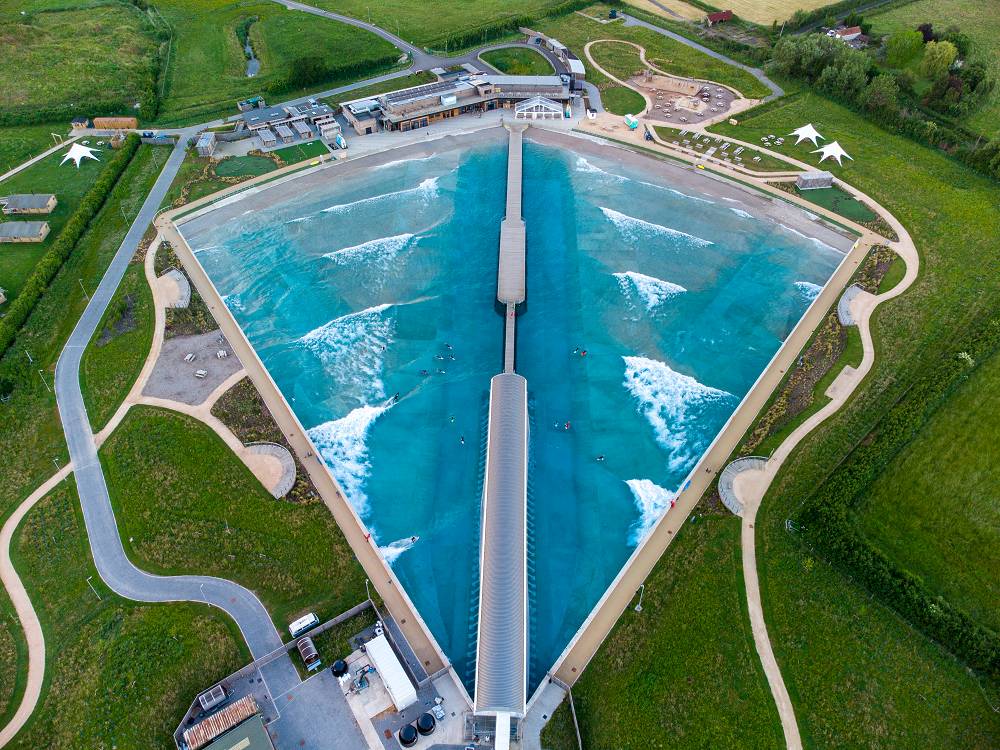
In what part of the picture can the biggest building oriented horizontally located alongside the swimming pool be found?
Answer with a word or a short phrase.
top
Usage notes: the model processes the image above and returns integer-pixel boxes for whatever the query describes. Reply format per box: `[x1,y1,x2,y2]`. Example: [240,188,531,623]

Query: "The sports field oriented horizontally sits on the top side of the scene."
[271,140,329,166]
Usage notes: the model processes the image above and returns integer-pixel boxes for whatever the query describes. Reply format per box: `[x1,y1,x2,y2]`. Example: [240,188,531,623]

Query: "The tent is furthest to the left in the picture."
[60,141,103,168]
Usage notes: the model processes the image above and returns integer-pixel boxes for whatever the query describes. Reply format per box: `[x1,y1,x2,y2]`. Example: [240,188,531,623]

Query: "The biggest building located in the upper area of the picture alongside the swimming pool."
[339,63,571,135]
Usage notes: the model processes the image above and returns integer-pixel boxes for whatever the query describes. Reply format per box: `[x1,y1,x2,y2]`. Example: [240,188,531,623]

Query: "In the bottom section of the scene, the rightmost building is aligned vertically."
[468,372,533,719]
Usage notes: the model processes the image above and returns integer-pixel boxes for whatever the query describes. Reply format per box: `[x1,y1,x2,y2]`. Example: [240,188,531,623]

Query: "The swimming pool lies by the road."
[170,125,862,714]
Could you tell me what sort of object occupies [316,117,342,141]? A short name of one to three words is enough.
building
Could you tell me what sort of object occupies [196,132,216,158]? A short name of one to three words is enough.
shed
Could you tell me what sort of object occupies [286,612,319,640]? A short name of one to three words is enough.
camper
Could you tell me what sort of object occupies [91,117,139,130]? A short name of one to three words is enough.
building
